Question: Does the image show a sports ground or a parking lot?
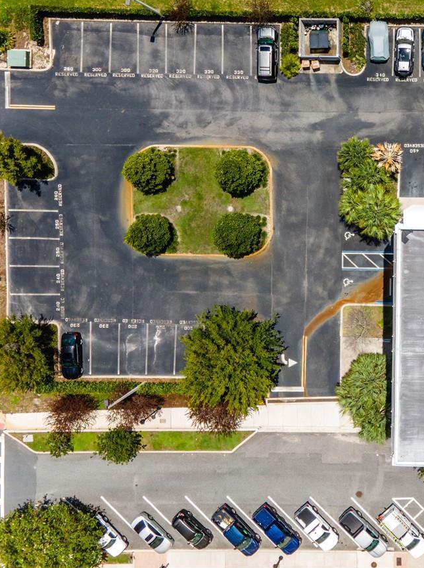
parking lot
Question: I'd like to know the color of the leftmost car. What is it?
black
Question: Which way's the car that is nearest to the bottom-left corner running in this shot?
on a diagonal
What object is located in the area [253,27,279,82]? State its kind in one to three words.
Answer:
car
